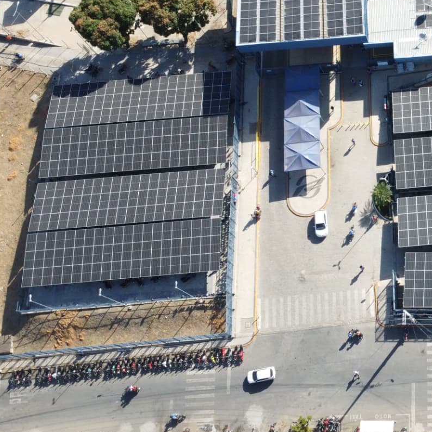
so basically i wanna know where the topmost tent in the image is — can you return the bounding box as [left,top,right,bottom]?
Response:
[284,63,324,95]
